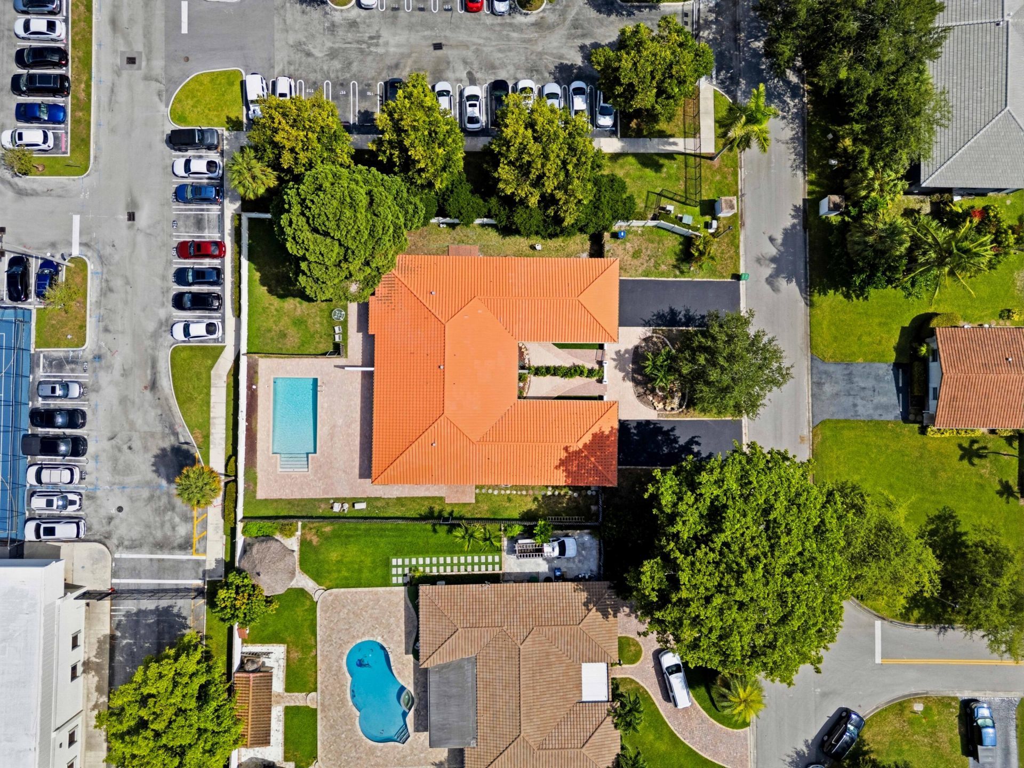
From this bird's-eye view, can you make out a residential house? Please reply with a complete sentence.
Yes, looking at the shot, I can spot a residential house.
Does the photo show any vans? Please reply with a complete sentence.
Yes, there is a van in the image.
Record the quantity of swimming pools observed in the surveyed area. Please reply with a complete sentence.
In total, 2 swimming pools can be seen.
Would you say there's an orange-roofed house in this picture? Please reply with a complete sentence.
Yes, the picture does show an orange-roofed house.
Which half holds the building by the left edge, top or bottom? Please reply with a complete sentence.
You can find the building by the left edge in the bottom half.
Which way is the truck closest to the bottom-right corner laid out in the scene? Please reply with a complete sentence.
In this picture, the truck closest to the bottom-right corner lies up and down.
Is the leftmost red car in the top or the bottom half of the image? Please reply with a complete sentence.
The leftmost red car is in the top half of the image.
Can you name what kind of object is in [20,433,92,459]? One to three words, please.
truck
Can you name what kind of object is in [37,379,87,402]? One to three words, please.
car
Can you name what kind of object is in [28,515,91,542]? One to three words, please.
car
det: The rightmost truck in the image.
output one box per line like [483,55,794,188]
[966,699,1000,765]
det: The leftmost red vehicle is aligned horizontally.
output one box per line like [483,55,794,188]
[178,238,229,261]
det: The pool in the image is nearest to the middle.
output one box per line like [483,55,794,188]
[270,376,319,473]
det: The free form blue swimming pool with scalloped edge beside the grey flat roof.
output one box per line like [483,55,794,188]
[344,638,416,745]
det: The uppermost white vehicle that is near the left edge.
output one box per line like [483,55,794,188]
[17,19,70,46]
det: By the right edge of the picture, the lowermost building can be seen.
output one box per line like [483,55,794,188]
[921,327,1024,430]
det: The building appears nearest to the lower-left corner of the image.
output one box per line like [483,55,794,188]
[0,559,88,768]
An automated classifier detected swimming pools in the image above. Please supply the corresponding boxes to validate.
[270,376,319,473]
[344,638,416,745]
